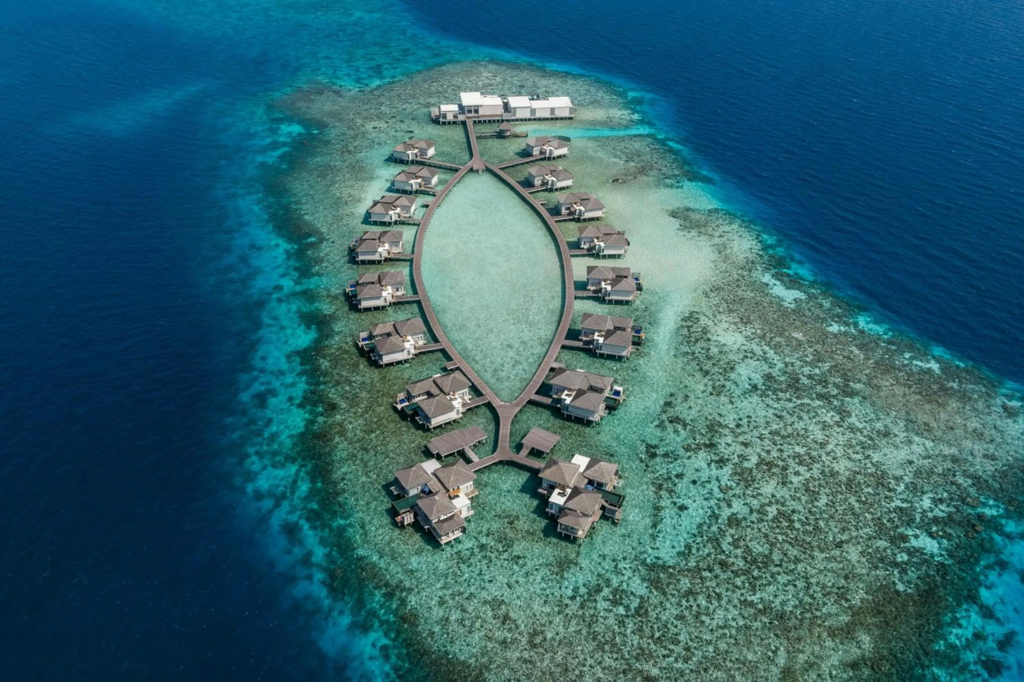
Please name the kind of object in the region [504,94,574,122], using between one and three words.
building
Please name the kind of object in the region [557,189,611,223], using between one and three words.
house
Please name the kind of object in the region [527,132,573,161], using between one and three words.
house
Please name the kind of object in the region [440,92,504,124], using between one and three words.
building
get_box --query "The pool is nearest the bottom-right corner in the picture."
[595,487,624,509]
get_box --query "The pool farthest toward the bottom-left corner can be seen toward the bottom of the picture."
[393,494,422,519]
